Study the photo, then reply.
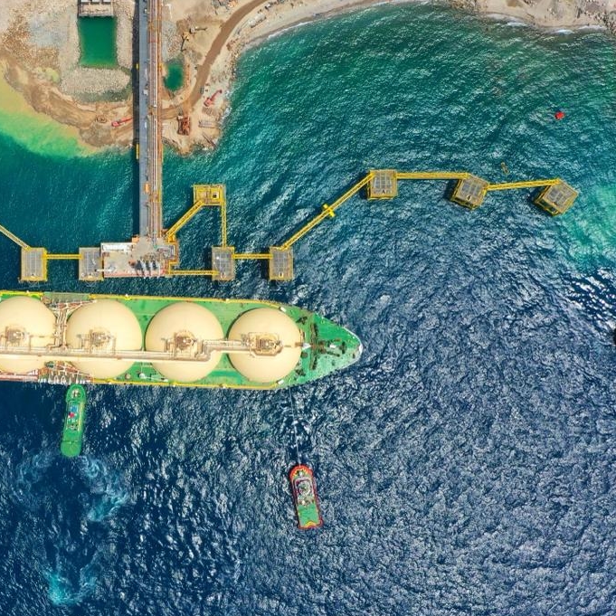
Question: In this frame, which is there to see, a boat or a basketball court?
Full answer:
The one in the frame is a boat.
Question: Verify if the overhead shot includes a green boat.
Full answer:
Yes, the photo shows a green boat.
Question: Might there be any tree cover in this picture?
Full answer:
No, no tree cover is visible.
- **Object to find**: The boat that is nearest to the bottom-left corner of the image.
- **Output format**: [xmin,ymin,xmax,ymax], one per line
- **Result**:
[61,385,86,457]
